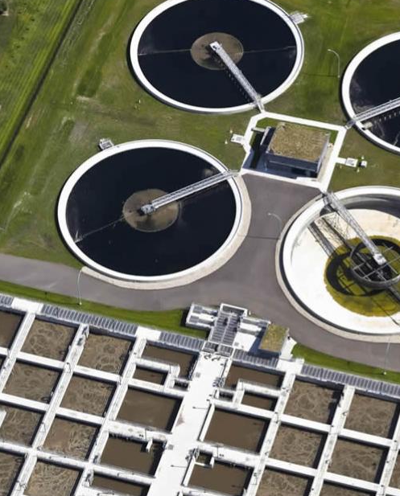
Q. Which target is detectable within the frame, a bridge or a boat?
bridge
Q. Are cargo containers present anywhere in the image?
No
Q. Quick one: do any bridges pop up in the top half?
Yes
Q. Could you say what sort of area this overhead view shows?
industrial area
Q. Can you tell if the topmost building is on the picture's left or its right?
right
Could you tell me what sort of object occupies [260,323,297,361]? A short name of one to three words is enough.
shed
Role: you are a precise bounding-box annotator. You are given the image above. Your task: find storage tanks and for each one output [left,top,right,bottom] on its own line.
[341,32,400,155]
[130,0,308,115]
[58,136,244,284]
[282,185,400,336]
